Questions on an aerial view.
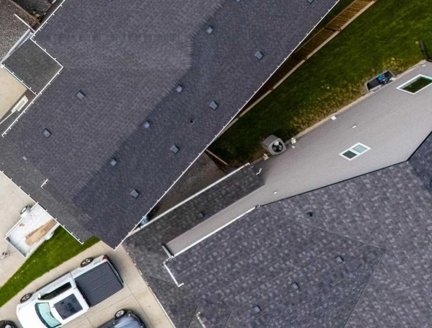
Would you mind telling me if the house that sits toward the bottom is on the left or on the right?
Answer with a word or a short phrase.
right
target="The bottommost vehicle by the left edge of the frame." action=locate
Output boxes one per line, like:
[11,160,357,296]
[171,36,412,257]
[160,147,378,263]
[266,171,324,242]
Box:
[17,254,125,328]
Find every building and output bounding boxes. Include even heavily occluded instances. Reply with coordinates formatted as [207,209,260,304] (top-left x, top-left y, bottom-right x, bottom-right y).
[131,73,432,328]
[0,0,341,251]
